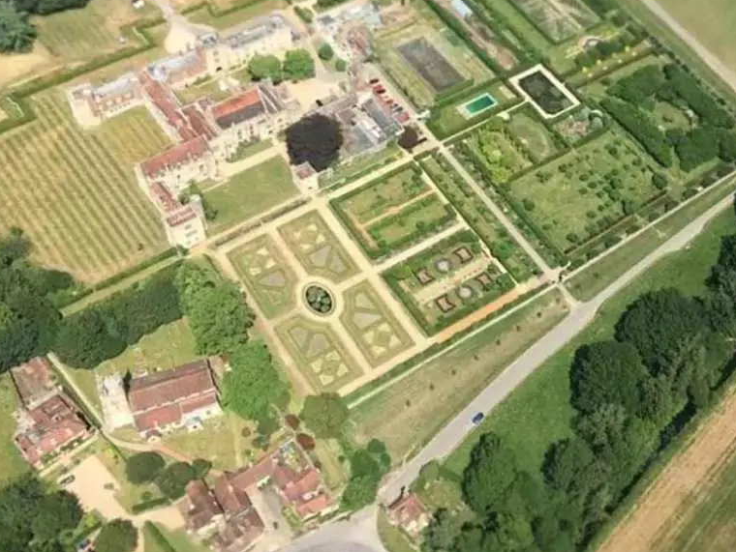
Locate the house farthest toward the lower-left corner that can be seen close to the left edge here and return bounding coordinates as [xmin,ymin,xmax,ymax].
[14,381,104,471]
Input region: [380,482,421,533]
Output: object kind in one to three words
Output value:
building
